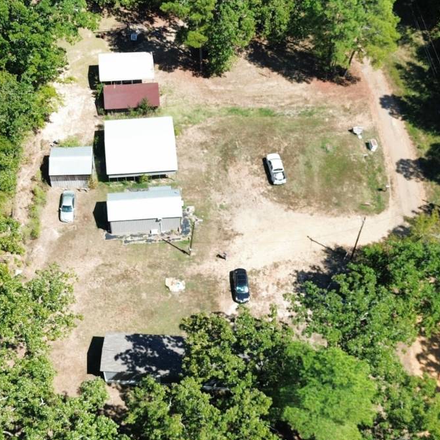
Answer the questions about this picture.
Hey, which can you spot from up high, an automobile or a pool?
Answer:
automobile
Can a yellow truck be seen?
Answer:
No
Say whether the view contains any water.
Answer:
No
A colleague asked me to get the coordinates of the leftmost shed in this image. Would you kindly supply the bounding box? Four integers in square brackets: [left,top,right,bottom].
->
[49,149,92,187]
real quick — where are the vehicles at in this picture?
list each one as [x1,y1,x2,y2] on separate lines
[230,268,252,305]
[57,191,77,224]
[264,152,290,188]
